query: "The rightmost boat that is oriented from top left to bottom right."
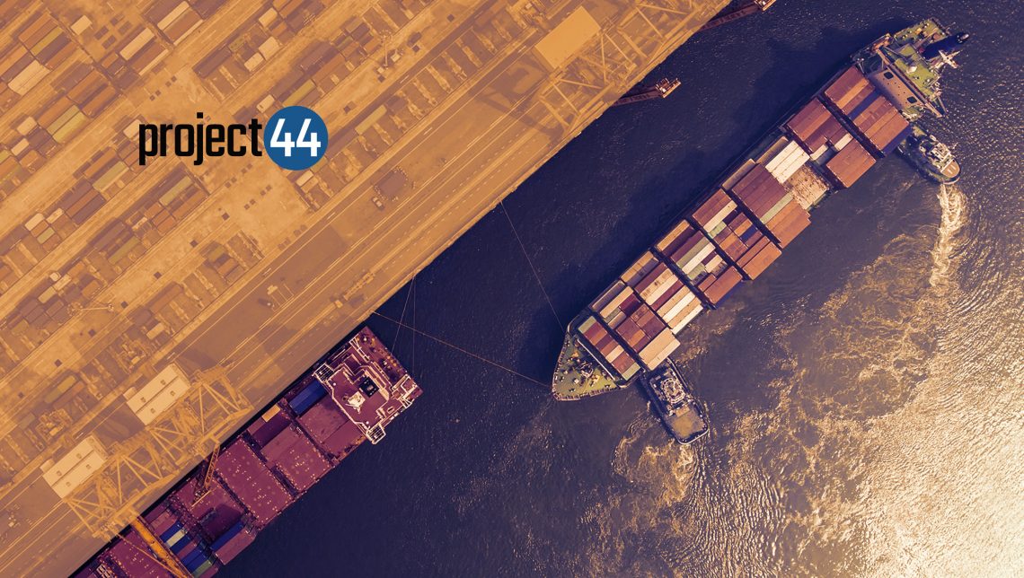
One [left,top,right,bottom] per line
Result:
[888,126,961,192]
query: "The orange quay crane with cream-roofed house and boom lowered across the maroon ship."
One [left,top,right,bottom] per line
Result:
[33,421,190,578]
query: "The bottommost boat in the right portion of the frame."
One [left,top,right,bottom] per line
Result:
[644,361,713,449]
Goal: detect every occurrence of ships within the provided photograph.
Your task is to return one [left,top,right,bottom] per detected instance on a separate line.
[545,15,982,399]
[77,326,424,578]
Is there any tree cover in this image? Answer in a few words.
No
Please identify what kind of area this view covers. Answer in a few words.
port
